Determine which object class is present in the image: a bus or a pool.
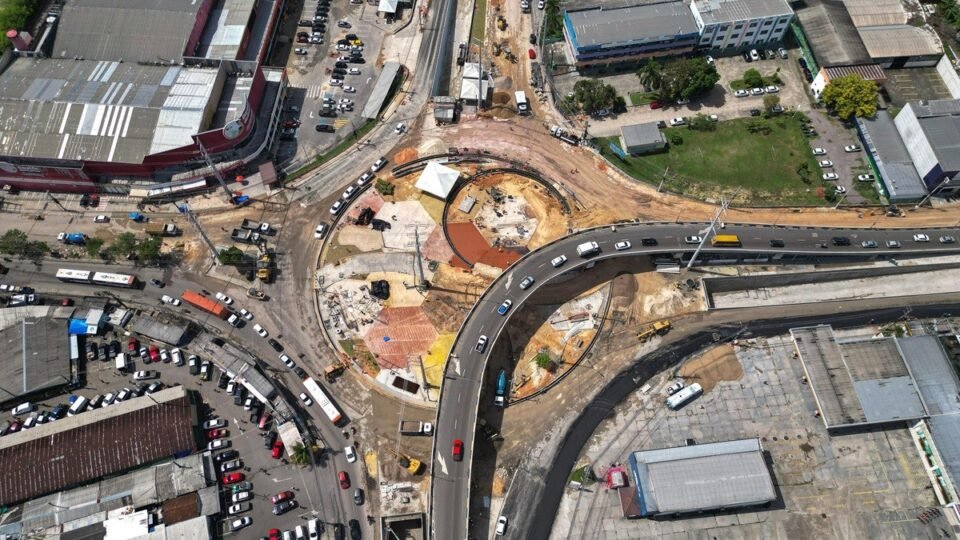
bus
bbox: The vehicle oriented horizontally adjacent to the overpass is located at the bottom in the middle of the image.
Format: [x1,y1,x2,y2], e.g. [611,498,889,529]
[398,420,433,434]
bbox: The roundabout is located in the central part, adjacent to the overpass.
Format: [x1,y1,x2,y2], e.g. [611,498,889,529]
[312,154,612,413]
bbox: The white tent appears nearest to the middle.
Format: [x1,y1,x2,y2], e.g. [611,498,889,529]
[415,162,460,199]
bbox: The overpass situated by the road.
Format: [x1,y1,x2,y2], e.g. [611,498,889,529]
[432,218,960,540]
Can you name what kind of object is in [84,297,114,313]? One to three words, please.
shed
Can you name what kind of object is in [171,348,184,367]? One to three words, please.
vehicle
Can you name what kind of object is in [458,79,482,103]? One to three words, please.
tent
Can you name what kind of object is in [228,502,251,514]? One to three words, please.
vehicle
